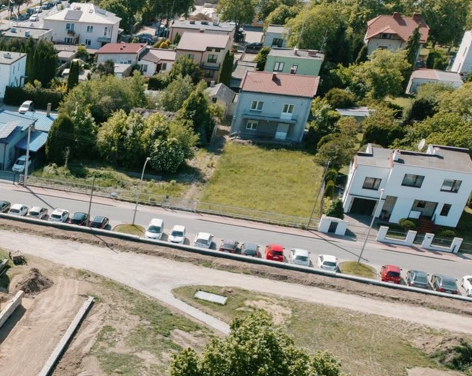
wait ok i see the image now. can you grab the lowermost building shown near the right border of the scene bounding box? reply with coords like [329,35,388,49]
[344,138,472,232]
